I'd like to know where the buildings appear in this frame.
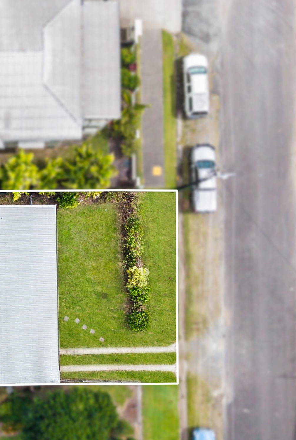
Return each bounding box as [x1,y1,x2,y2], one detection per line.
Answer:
[0,0,120,154]
[0,206,61,386]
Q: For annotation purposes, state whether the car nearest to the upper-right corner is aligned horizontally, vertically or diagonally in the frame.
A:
vertically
